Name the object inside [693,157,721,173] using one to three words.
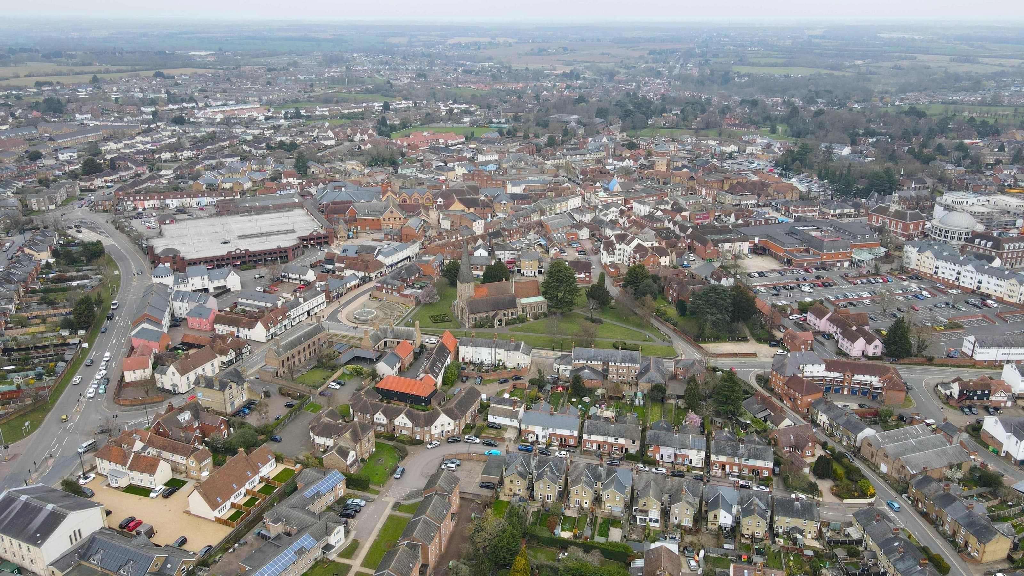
shed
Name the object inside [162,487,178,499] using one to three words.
vehicle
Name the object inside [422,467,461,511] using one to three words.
building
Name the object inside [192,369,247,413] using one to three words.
house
